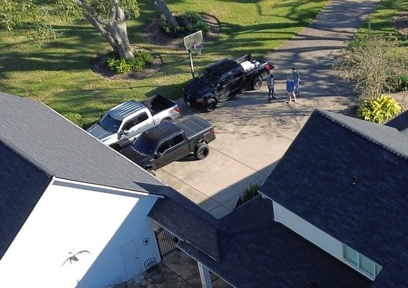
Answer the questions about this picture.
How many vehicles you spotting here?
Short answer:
3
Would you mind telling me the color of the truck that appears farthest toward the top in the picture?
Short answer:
black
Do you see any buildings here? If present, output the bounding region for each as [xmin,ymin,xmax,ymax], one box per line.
[0,94,170,288]
[174,109,408,288]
